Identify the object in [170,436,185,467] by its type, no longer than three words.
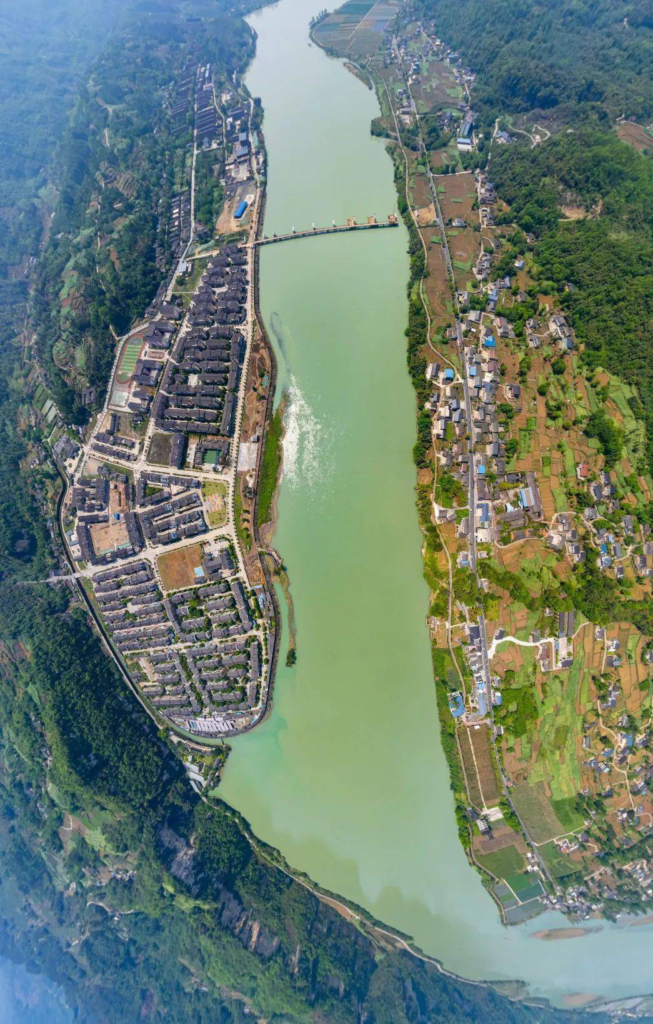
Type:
building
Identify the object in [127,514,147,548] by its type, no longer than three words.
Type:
building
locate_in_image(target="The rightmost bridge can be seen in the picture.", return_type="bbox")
[251,219,400,249]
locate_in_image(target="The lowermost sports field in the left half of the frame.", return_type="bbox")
[156,543,205,589]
